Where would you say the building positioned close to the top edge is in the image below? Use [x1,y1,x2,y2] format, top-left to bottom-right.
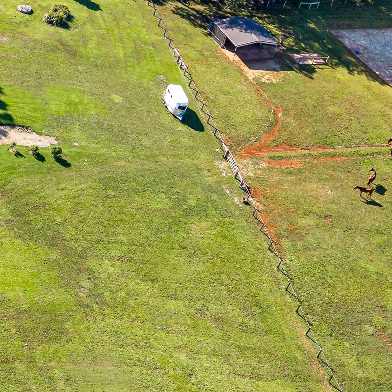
[207,18,278,59]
